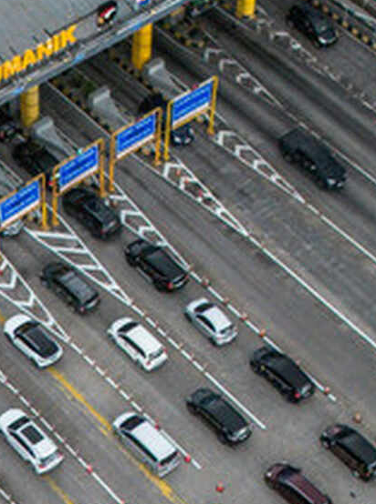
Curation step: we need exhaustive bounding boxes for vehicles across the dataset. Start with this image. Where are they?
[114,415,177,475]
[127,240,186,292]
[188,390,252,448]
[252,349,313,403]
[5,135,60,182]
[1,415,57,470]
[5,316,59,367]
[109,322,164,374]
[282,126,341,182]
[265,463,329,504]
[0,218,27,240]
[319,423,376,483]
[42,262,100,315]
[66,191,121,239]
[285,0,336,45]
[185,302,235,346]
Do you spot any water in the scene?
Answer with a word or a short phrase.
No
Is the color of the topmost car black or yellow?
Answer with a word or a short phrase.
black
